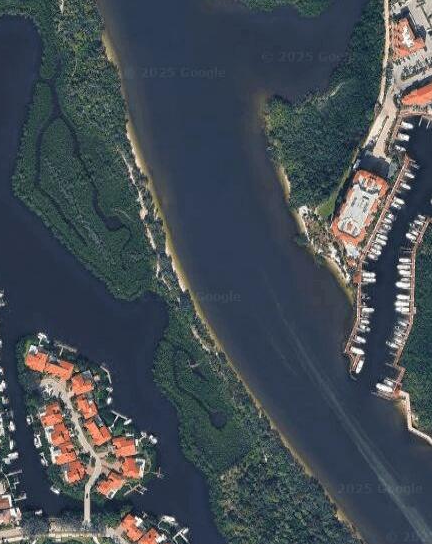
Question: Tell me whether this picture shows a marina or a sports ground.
marina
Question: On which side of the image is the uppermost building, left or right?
right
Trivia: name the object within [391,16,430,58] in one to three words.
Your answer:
building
